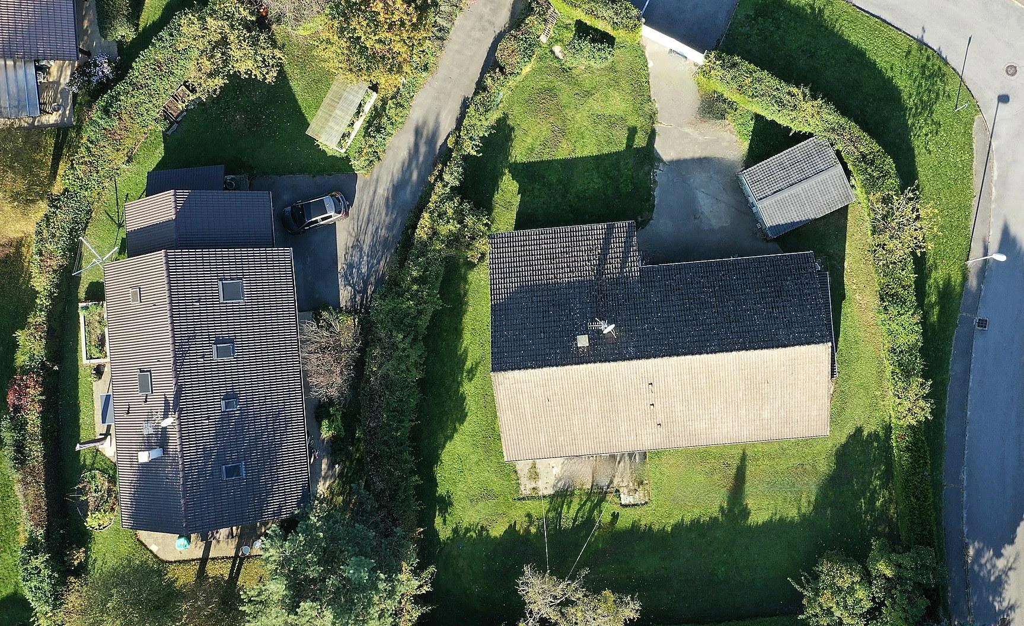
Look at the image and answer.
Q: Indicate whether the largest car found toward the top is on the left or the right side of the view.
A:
left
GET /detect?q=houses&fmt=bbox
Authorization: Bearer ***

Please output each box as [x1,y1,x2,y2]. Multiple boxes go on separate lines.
[102,248,318,534]
[0,0,91,69]
[489,220,831,463]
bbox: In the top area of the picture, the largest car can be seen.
[282,192,347,232]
